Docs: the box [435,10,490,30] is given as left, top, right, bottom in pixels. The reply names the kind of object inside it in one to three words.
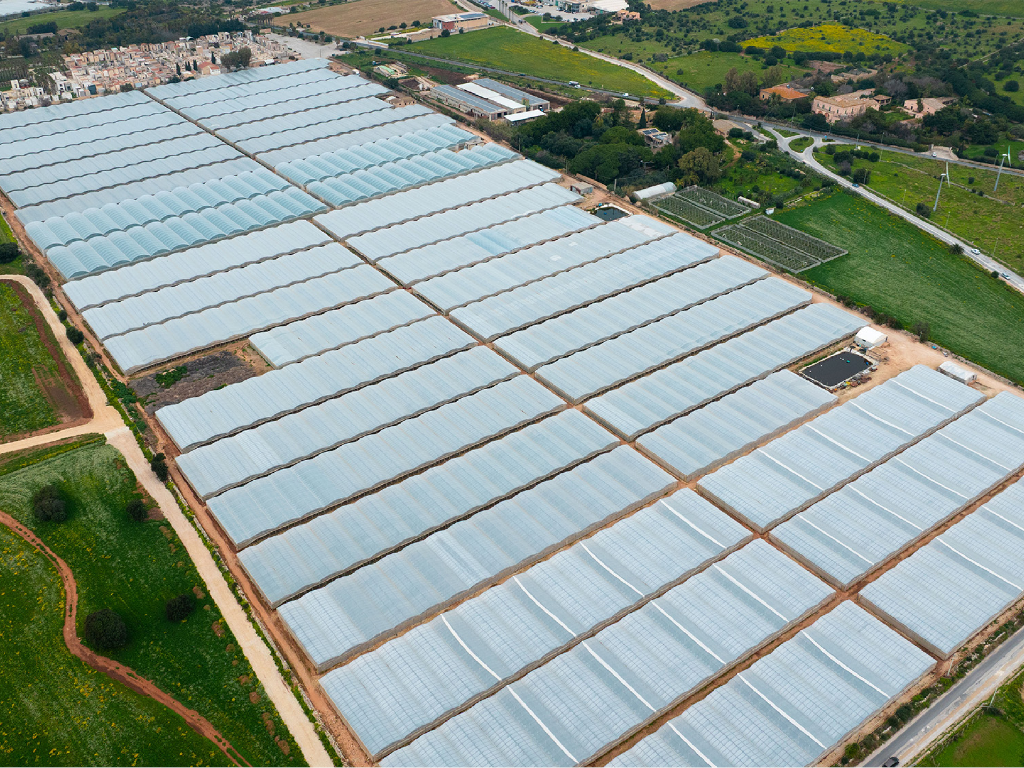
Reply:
building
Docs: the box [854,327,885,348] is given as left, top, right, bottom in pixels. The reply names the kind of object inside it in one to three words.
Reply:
tent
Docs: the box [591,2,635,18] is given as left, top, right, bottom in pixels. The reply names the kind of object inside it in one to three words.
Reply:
building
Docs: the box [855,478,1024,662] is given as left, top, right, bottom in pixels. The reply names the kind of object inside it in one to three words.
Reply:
greenhouse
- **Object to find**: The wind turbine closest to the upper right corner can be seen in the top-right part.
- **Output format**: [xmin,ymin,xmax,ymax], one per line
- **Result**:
[992,141,1013,191]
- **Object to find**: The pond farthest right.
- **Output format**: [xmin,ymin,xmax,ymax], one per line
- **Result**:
[798,349,876,387]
